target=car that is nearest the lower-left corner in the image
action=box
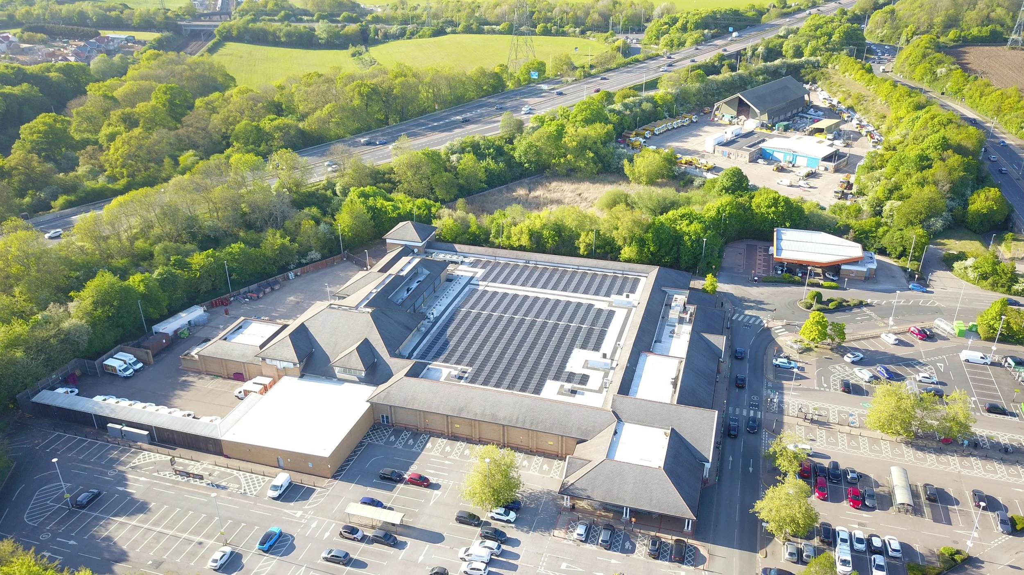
[72,489,101,510]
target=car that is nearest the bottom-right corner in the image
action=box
[993,511,1013,535]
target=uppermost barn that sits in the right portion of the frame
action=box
[712,75,809,122]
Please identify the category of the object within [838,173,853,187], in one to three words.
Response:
vehicle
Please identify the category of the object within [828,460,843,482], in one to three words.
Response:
car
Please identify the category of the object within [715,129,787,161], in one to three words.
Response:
building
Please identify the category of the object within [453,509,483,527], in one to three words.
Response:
car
